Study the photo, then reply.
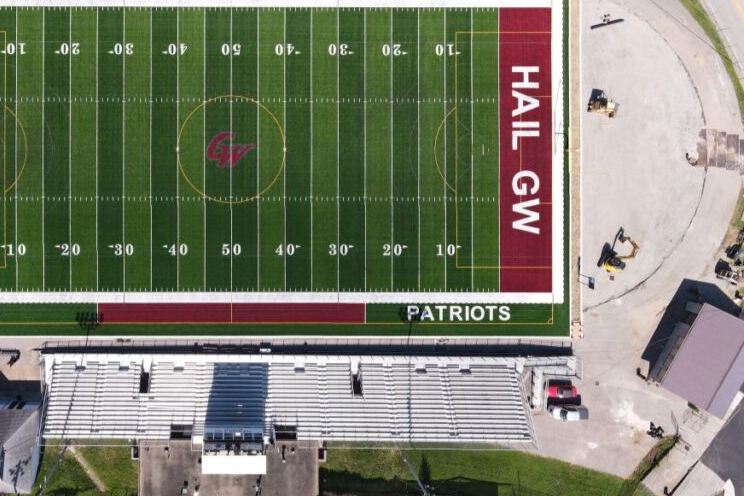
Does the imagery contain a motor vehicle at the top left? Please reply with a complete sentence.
No, at the top left there is no motor vehicle.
